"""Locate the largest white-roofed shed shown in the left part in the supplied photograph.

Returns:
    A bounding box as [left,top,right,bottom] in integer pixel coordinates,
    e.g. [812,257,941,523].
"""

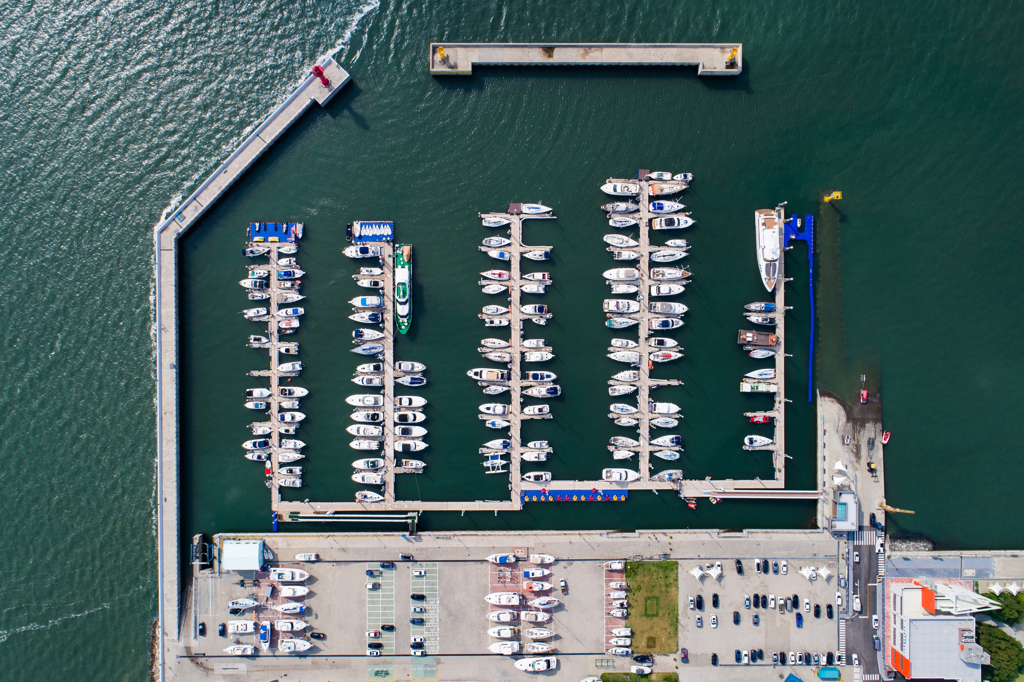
[219,541,263,570]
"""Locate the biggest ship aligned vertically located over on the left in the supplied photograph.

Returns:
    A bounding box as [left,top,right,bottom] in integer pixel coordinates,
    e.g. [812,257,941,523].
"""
[389,243,412,334]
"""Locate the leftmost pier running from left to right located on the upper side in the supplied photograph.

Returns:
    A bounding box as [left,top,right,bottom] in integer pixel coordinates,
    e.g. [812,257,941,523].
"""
[250,222,298,242]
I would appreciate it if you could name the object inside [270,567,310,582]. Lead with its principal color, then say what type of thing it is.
white boat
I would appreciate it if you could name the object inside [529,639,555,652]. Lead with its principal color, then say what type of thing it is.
white boat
